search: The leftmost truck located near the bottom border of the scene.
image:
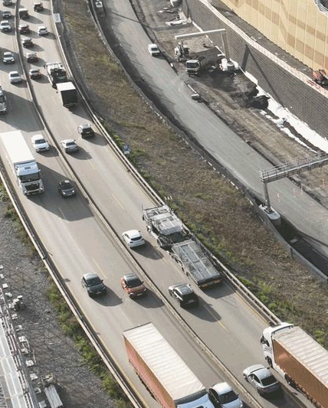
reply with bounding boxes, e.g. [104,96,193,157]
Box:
[123,323,219,408]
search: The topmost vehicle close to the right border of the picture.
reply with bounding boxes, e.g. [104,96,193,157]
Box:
[311,62,328,84]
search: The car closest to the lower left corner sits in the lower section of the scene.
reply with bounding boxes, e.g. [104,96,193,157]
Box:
[79,270,109,300]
